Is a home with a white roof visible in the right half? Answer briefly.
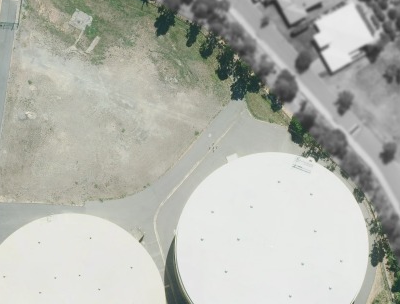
Yes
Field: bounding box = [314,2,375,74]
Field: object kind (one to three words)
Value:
house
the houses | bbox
[314,2,375,74]
[278,0,320,26]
